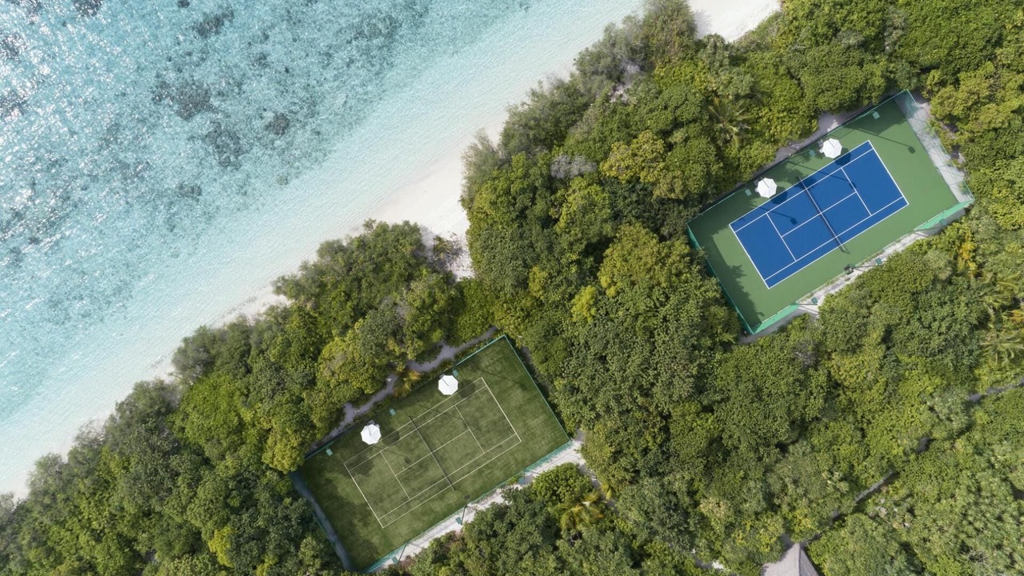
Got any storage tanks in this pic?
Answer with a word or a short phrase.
No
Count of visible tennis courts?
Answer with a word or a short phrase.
2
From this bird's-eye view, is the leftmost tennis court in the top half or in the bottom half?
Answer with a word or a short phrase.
bottom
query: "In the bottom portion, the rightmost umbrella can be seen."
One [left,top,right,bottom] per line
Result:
[438,371,459,395]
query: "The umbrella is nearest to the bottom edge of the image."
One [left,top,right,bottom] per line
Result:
[360,414,382,445]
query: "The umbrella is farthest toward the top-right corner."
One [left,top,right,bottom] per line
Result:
[812,137,842,159]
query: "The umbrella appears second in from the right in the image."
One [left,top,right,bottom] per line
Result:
[749,176,777,199]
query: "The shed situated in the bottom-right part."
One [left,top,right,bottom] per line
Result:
[740,540,817,576]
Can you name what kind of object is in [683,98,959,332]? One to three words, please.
tennis court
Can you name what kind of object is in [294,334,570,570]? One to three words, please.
tennis court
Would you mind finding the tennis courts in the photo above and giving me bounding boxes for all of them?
[294,334,570,570]
[683,98,959,332]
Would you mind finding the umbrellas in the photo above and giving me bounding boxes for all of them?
[749,176,777,199]
[812,137,842,159]
[360,414,382,445]
[438,371,459,395]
